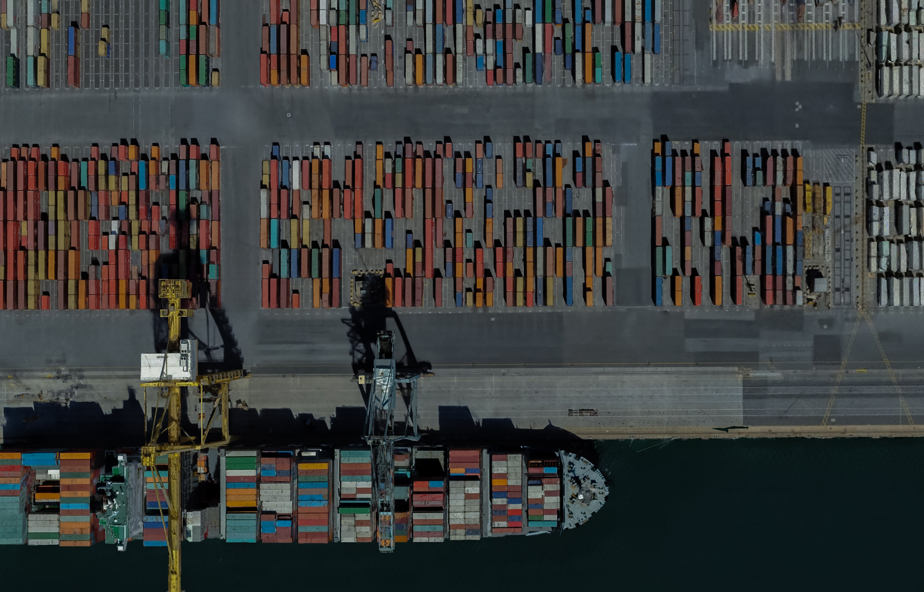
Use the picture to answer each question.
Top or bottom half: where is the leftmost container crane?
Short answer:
bottom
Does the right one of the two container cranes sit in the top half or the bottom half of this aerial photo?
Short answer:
bottom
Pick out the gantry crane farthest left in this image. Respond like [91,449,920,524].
[140,280,247,592]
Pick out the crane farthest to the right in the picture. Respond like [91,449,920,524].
[342,332,437,553]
